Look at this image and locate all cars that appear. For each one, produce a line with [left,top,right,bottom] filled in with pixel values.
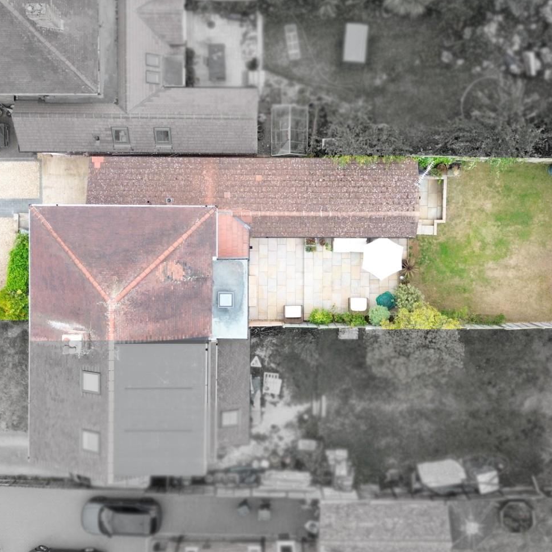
[28,545,105,552]
[82,498,163,541]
